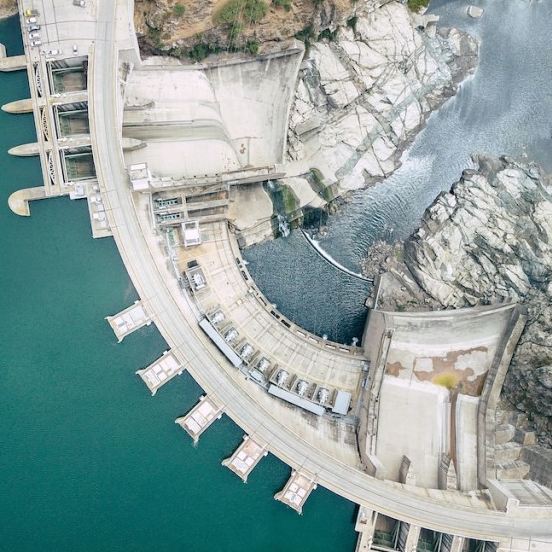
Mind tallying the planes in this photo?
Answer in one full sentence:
The picture shows no planes.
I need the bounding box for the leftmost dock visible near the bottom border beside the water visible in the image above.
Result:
[350,506,377,552]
